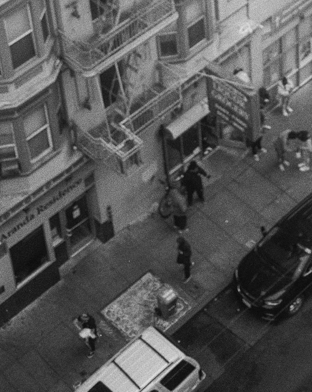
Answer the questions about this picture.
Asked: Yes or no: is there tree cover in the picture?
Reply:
No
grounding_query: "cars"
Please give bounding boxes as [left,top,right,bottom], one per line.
[223,182,312,328]
[72,319,208,392]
